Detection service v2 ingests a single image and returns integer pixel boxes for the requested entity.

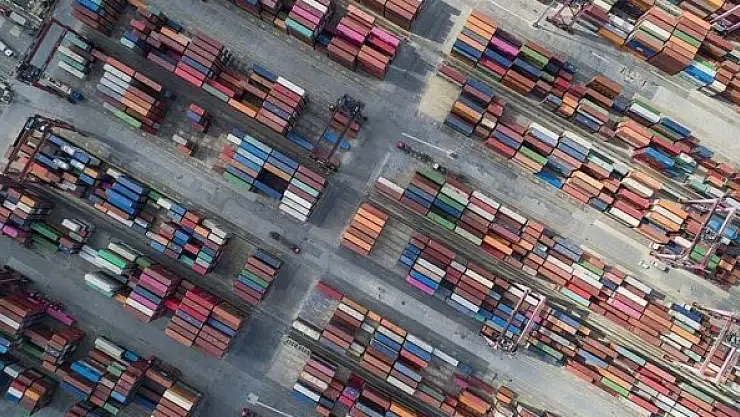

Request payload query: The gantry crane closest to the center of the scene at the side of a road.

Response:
[304,87,371,172]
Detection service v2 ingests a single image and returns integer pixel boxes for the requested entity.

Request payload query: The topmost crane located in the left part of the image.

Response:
[8,8,107,100]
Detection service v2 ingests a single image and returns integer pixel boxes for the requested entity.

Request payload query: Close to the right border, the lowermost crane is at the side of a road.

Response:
[658,298,740,384]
